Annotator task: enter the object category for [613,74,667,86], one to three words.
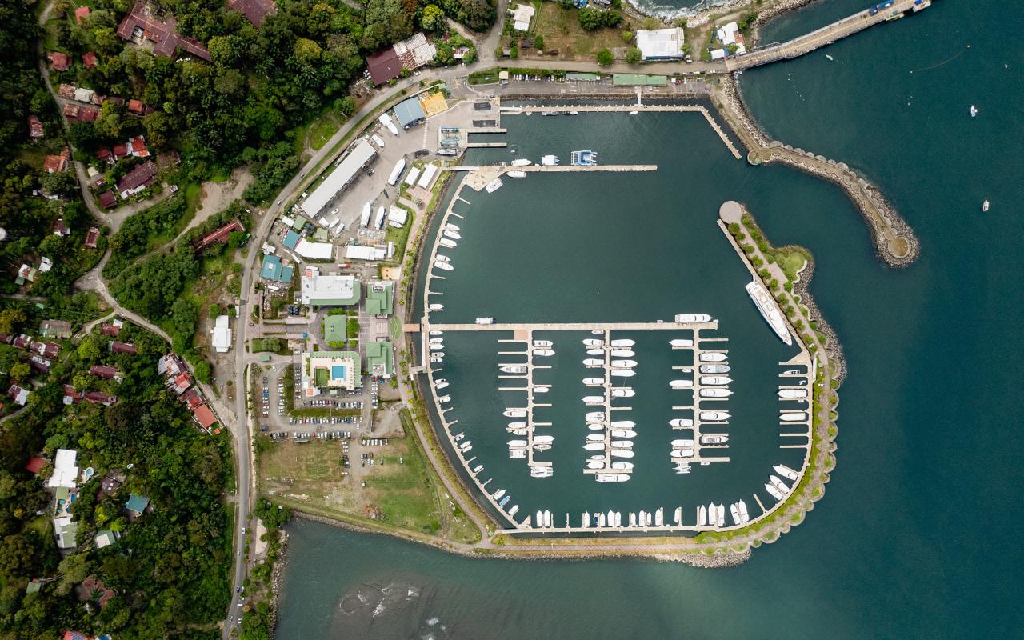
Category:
building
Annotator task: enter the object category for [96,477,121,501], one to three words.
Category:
house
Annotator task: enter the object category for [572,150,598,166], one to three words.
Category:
ship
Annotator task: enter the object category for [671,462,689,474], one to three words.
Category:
boat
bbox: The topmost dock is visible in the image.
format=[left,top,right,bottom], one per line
[722,0,951,72]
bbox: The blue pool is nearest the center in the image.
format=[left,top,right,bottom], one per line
[332,366,346,380]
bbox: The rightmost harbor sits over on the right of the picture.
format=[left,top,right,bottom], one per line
[484,206,845,566]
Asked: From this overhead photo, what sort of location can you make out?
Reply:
port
